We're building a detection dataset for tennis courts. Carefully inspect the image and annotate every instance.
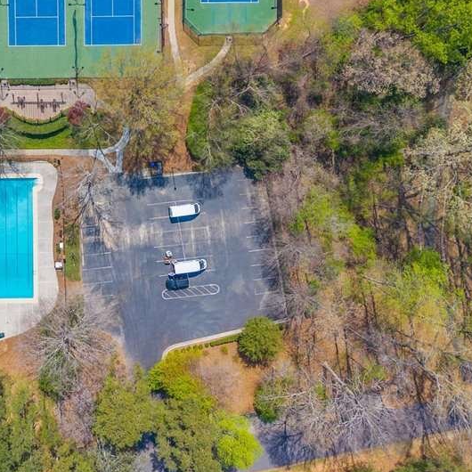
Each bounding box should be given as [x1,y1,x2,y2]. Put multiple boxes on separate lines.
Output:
[0,0,75,79]
[75,0,163,79]
[184,0,278,34]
